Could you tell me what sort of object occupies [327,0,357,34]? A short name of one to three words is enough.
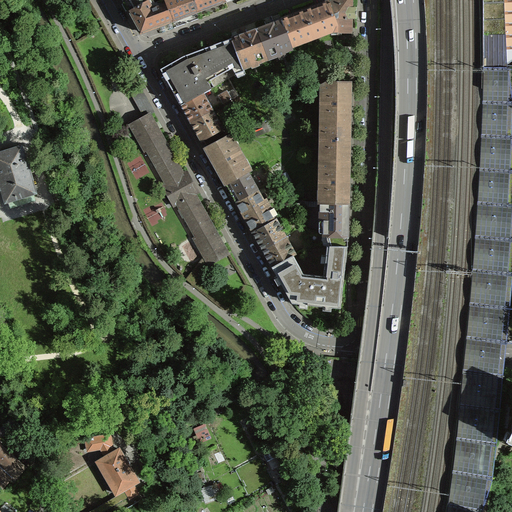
house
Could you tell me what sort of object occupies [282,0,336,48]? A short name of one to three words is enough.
house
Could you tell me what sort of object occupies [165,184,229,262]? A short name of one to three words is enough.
building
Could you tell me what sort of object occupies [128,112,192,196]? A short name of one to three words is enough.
building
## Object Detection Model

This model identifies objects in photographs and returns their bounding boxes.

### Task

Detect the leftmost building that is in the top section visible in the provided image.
[0,146,36,208]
